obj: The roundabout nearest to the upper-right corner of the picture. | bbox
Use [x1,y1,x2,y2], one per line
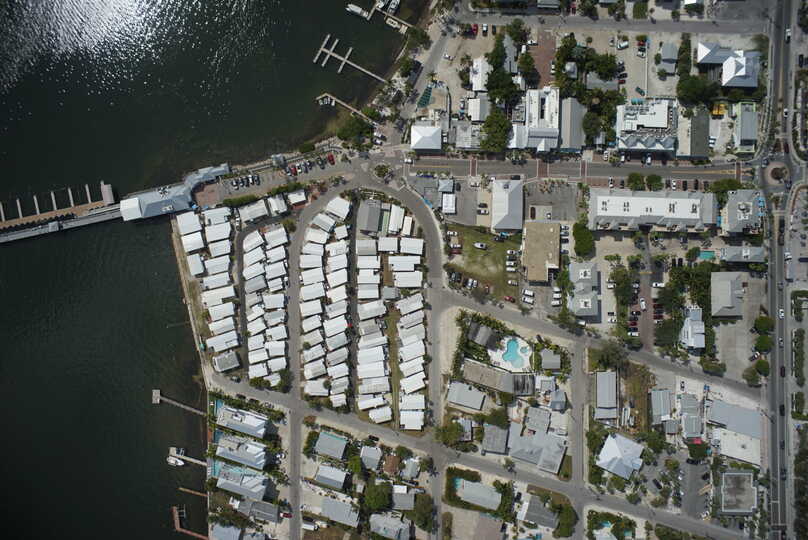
[756,151,800,194]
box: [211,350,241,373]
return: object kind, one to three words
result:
house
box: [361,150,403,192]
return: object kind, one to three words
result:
roundabout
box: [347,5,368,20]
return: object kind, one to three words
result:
boat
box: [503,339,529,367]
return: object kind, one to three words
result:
swimming pool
